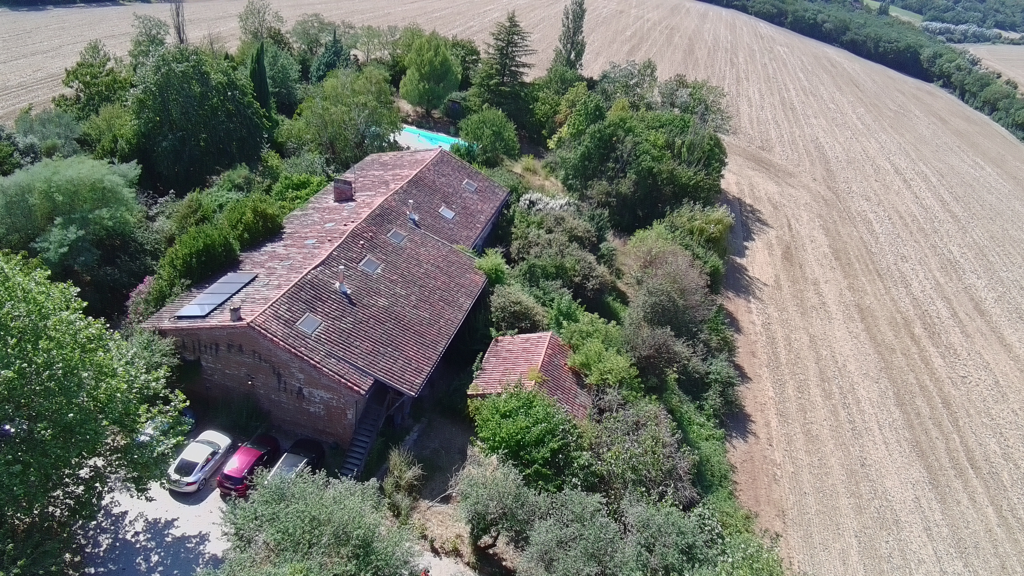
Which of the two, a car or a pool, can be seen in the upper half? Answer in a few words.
pool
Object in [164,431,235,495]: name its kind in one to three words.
car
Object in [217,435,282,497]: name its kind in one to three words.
car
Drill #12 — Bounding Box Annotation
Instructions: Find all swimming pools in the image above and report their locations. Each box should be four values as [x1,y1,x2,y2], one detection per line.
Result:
[377,118,503,168]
